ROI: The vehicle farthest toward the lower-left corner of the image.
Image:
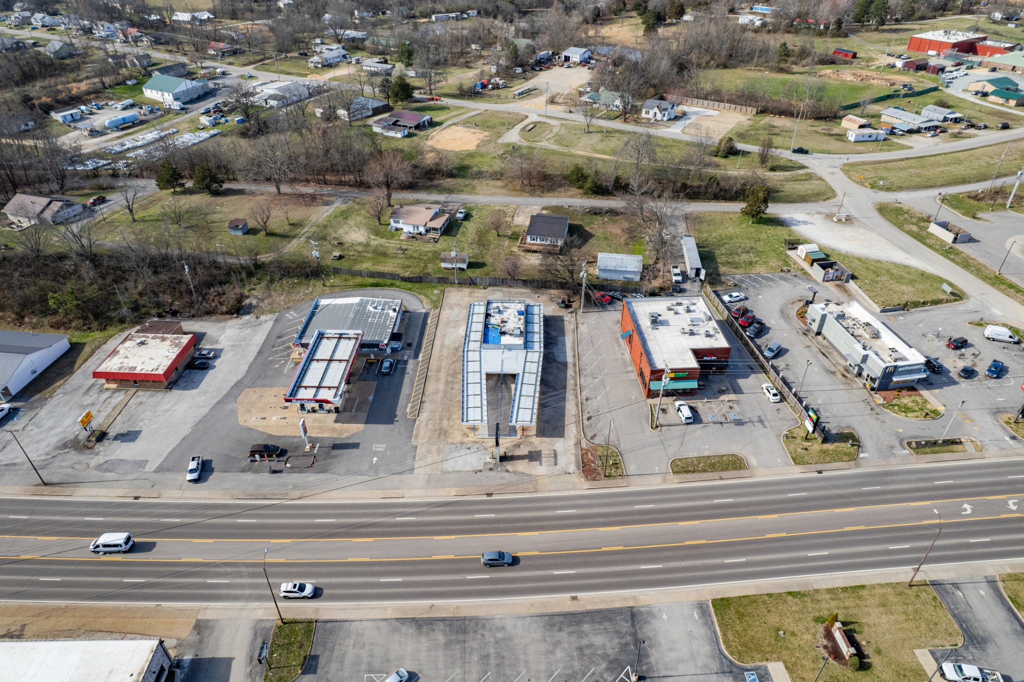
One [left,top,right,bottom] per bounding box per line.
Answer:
[90,529,135,554]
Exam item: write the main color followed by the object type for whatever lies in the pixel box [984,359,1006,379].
blue vehicle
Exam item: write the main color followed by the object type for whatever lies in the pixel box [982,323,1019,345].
white vehicle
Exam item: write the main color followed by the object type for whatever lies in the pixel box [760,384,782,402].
white car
